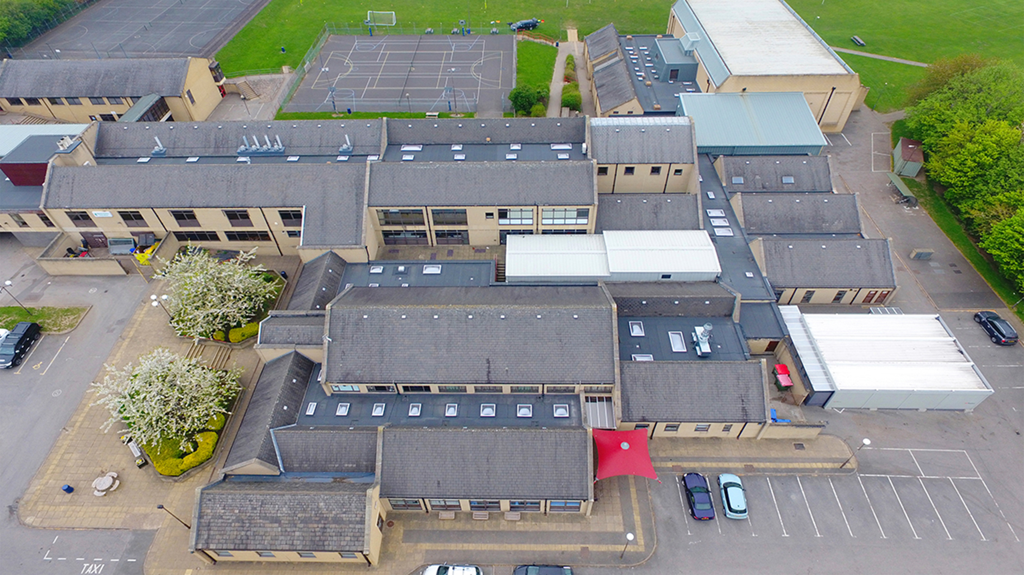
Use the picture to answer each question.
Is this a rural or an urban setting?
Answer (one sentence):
The land in this view is best described as urban.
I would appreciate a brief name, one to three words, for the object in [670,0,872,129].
building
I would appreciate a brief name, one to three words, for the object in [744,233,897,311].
building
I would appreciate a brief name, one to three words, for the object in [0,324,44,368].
car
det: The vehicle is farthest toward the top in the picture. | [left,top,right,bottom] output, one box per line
[511,14,542,30]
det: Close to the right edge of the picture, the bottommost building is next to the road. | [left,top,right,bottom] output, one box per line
[801,313,997,411]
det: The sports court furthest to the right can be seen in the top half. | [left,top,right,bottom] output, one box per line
[281,35,513,117]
